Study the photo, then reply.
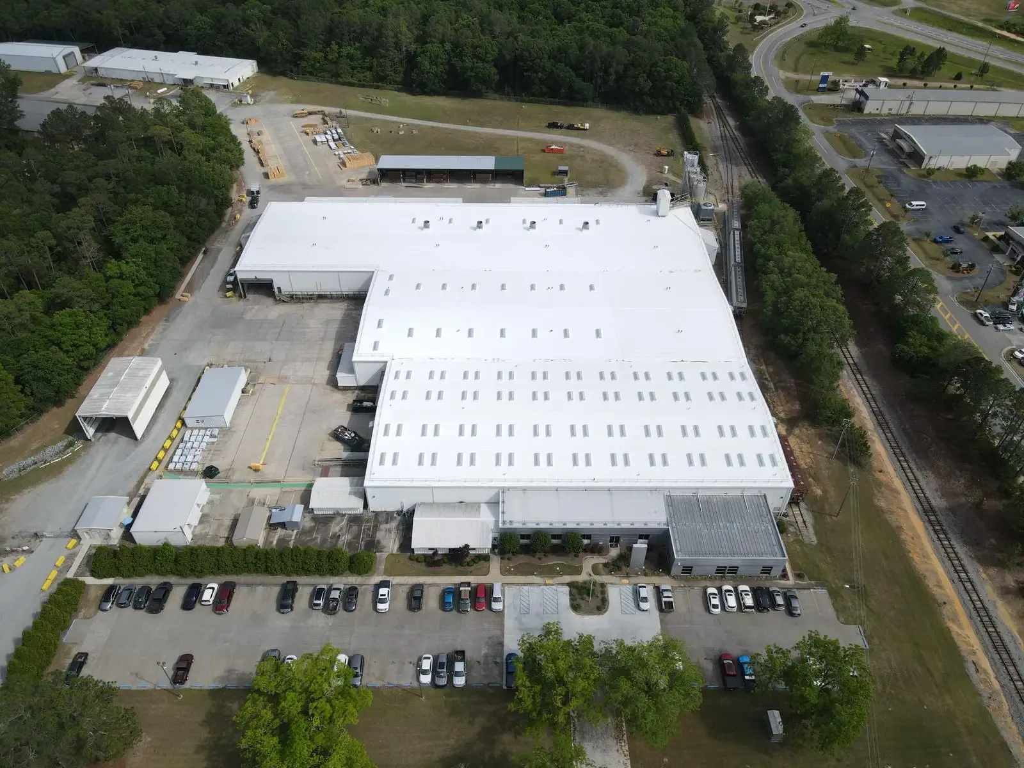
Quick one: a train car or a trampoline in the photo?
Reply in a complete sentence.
The image shows a train car.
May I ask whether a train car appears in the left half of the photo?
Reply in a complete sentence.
No, there is no train car in the left half of the photo.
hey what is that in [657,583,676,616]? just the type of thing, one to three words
vehicle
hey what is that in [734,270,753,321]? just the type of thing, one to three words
rail car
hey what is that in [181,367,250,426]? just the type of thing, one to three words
building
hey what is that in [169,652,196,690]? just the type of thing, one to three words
truck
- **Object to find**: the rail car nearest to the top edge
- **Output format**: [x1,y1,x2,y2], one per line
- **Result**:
[729,202,743,241]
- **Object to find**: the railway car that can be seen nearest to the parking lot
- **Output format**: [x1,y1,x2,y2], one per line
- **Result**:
[778,430,808,500]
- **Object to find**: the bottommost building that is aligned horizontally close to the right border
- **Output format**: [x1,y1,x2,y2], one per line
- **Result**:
[892,125,1022,168]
